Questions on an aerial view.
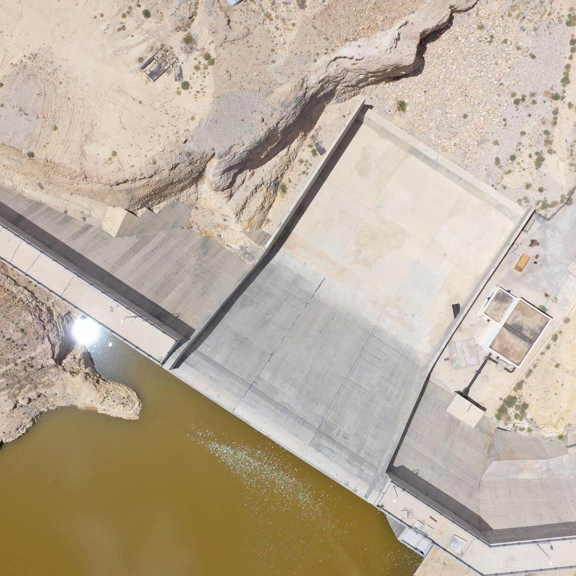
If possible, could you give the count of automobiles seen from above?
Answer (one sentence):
Not a single automobile can be seen.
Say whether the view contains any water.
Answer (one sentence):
Yes, there's water in this view.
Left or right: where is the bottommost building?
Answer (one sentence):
It is on the right.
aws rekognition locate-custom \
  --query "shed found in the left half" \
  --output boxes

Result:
[141,46,177,84]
